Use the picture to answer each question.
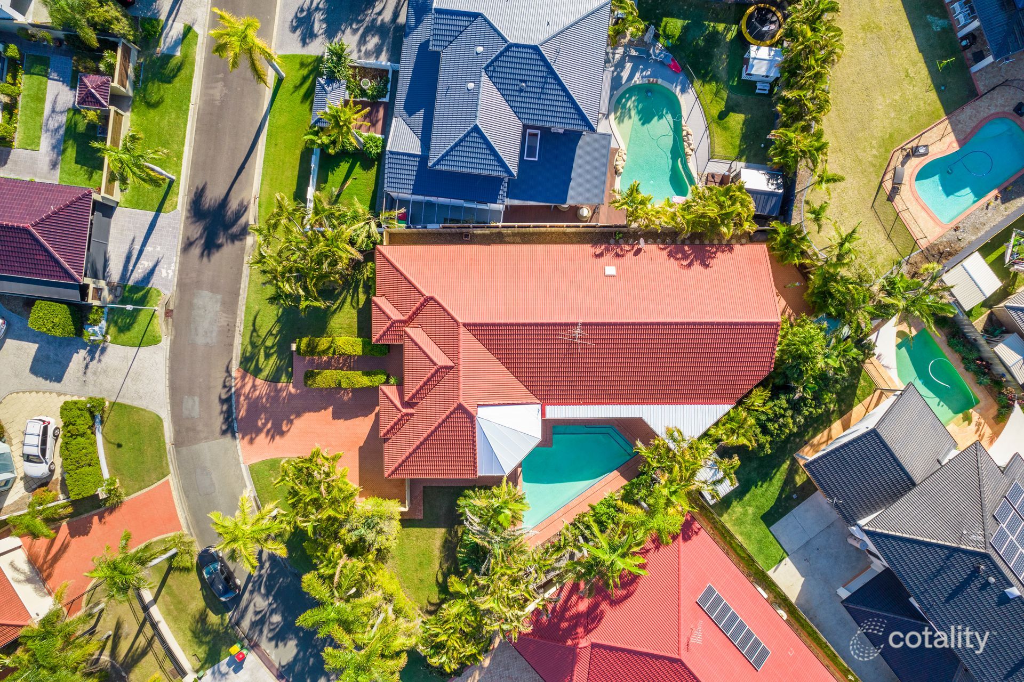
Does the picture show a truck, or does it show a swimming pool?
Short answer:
swimming pool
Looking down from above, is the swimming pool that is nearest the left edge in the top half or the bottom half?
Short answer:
bottom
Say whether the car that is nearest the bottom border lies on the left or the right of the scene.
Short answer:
left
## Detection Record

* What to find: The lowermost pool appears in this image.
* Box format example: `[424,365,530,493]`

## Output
[519,423,640,526]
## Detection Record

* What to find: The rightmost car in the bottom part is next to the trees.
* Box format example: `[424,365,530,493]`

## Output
[192,548,241,609]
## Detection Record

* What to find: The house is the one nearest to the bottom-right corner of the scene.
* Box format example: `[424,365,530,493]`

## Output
[798,381,1024,682]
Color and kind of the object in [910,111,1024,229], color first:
blue swimming pool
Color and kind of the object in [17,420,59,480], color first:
white car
